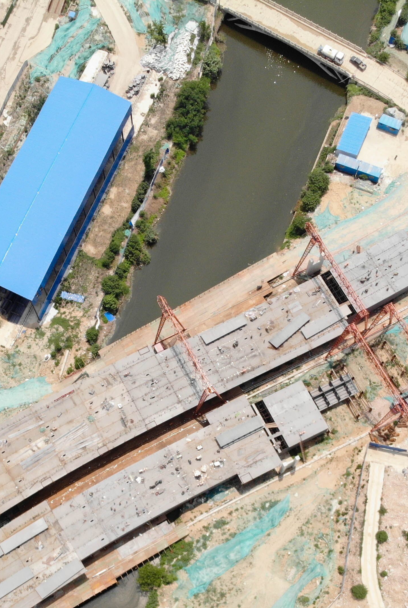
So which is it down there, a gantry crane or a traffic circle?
gantry crane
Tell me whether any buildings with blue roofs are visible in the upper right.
Yes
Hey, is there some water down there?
Yes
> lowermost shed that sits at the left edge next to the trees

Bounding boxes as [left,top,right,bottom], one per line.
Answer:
[0,75,139,346]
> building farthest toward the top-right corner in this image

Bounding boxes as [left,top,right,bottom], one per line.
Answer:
[377,114,402,136]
